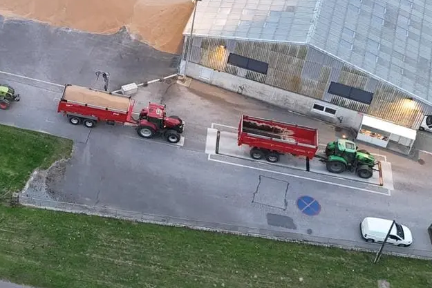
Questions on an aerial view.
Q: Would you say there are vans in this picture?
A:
Yes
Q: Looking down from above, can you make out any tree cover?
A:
No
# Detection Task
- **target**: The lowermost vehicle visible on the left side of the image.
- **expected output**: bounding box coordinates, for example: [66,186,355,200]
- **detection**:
[136,106,186,143]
